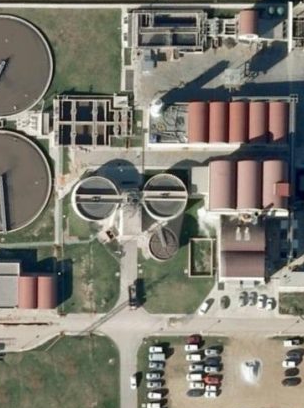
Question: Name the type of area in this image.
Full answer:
It's an industrial area.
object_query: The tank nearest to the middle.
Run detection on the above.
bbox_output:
[138,175,188,222]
